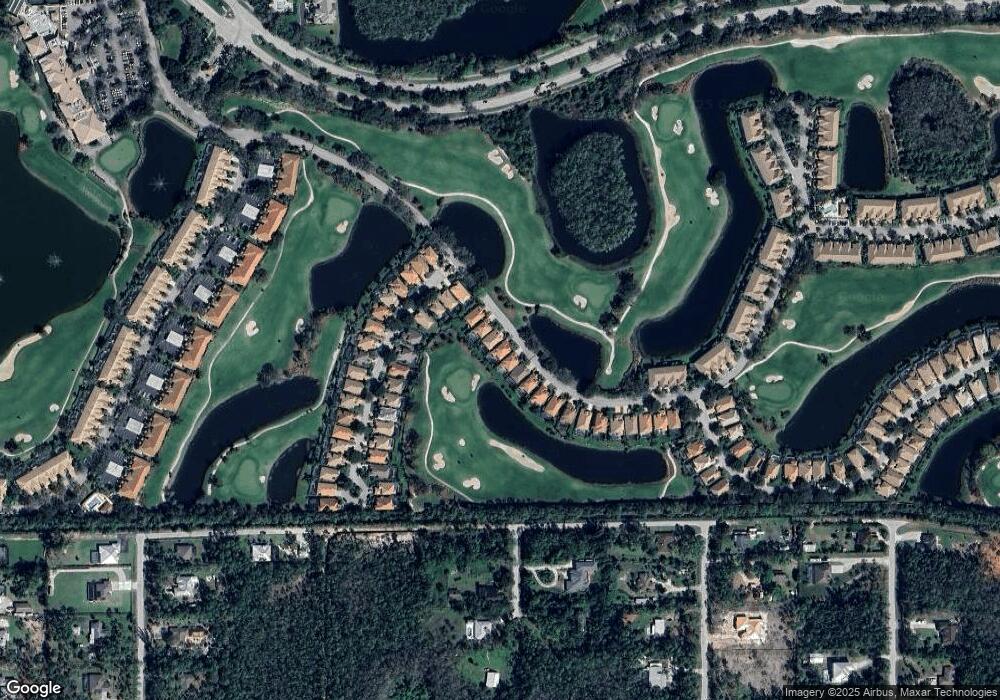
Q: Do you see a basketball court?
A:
No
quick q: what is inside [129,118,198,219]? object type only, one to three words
pond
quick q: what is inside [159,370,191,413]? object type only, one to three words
building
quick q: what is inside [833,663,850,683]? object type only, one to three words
house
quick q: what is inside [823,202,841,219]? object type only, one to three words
swimming pool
